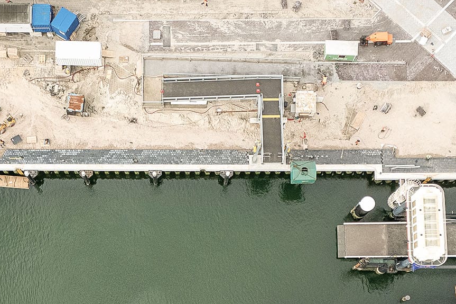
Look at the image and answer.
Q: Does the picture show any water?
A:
Yes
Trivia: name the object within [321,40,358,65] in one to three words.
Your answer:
building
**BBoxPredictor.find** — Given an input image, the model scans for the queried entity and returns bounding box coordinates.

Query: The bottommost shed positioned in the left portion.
[68,95,90,120]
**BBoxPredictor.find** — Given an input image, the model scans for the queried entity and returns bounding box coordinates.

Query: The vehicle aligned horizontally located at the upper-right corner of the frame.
[357,28,397,47]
